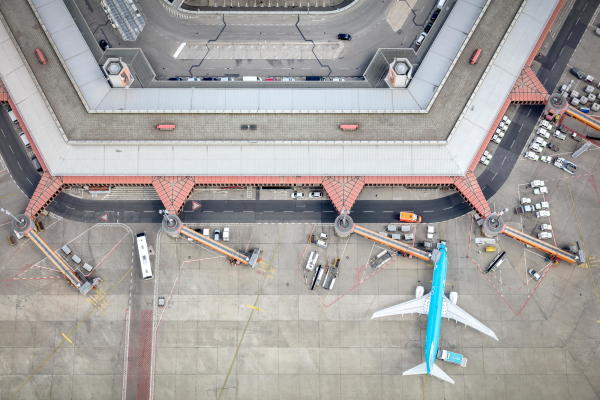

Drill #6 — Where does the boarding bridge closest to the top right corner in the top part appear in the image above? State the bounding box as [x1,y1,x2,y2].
[541,92,600,133]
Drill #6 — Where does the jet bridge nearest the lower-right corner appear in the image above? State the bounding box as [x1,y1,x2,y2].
[479,213,585,266]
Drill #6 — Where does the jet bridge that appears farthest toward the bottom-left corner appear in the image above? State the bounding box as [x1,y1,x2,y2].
[12,214,96,296]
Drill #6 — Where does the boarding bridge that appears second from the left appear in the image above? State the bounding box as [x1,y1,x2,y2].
[162,213,261,269]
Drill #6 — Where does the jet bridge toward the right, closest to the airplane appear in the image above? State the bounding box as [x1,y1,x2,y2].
[334,214,441,264]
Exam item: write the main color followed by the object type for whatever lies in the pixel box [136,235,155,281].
white vehicle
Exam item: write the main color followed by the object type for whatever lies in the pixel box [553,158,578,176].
white work vehicle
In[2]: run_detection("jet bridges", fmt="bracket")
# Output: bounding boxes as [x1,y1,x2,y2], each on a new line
[162,213,261,269]
[334,214,441,264]
[541,92,600,133]
[12,214,96,296]
[479,213,585,266]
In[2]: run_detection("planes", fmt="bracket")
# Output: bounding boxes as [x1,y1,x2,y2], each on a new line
[371,242,499,384]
